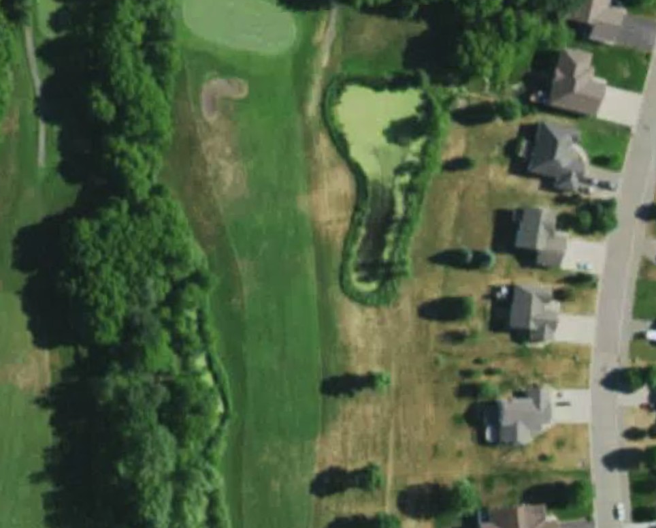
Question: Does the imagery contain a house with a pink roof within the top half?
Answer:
No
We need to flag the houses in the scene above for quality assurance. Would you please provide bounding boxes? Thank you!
[570,0,630,28]
[514,207,568,269]
[501,281,561,342]
[536,44,610,123]
[519,115,589,196]
[482,501,561,528]
[485,384,556,445]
